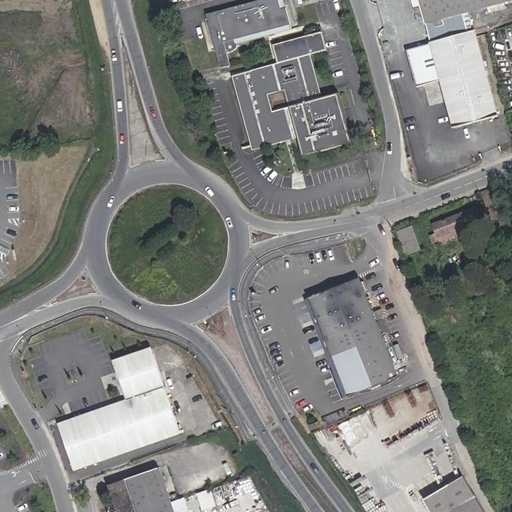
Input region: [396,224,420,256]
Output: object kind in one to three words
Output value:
shed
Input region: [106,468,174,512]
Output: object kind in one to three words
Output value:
building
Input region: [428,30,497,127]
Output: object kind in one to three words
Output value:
building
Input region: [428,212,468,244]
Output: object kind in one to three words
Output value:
house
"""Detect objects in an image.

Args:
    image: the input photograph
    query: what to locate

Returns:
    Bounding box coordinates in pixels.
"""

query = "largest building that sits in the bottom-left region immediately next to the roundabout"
[56,386,182,472]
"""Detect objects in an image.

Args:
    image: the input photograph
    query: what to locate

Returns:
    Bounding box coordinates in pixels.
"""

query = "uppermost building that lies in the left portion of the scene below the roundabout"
[112,346,165,400]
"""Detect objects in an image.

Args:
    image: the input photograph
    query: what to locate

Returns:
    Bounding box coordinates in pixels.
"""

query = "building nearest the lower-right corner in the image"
[424,476,486,512]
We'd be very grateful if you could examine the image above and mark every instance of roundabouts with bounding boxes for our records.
[82,158,254,330]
